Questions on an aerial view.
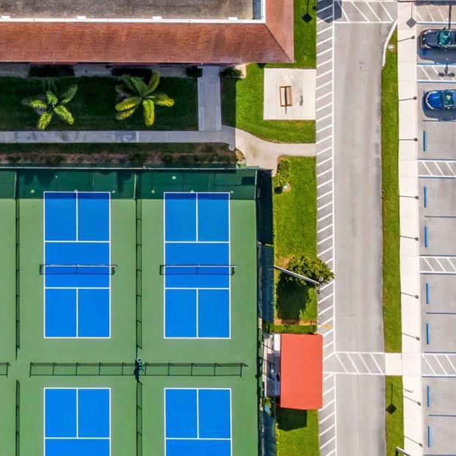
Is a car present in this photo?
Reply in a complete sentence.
Yes, looking at the shot, I can spot a car.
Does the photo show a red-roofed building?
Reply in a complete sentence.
Yes, the picture does show a red-roofed building.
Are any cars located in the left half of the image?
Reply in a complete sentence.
No, no car can be made out in the left half of the image.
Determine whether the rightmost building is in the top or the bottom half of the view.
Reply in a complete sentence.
The rightmost building sits in the bottom half of the picture.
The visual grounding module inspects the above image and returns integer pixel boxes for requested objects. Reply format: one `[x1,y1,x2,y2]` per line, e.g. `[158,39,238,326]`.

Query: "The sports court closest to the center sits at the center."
[164,192,231,338]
